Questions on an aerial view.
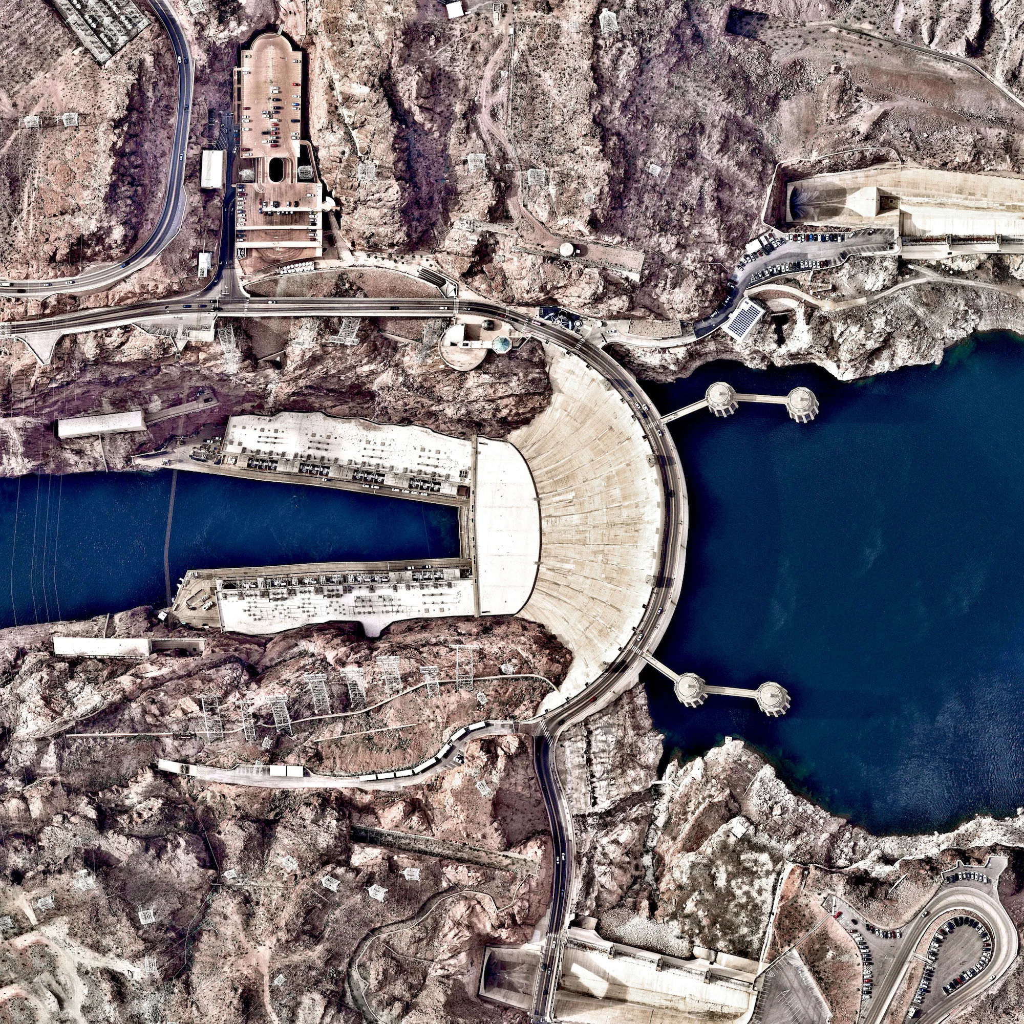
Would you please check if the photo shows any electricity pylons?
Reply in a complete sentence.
Yes, an electricity pylon appears in the view.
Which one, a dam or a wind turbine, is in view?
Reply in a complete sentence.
Visible in the photo is a dam.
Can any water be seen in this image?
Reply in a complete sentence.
Yes, the picture does contain water.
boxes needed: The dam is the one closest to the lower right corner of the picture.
[509,316,685,731]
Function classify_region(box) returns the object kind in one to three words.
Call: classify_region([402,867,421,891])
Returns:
pylon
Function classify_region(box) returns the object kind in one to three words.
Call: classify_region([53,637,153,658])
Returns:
building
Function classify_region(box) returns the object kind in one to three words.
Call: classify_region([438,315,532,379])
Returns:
building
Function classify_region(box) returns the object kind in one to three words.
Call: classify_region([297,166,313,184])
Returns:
pylon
